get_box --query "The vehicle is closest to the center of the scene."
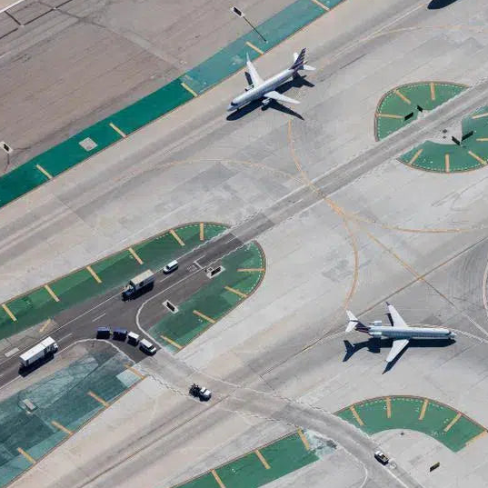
[162,258,180,273]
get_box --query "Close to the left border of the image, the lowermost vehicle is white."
[20,338,60,367]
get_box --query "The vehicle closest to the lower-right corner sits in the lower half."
[373,451,391,465]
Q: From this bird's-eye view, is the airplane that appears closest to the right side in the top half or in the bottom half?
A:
bottom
